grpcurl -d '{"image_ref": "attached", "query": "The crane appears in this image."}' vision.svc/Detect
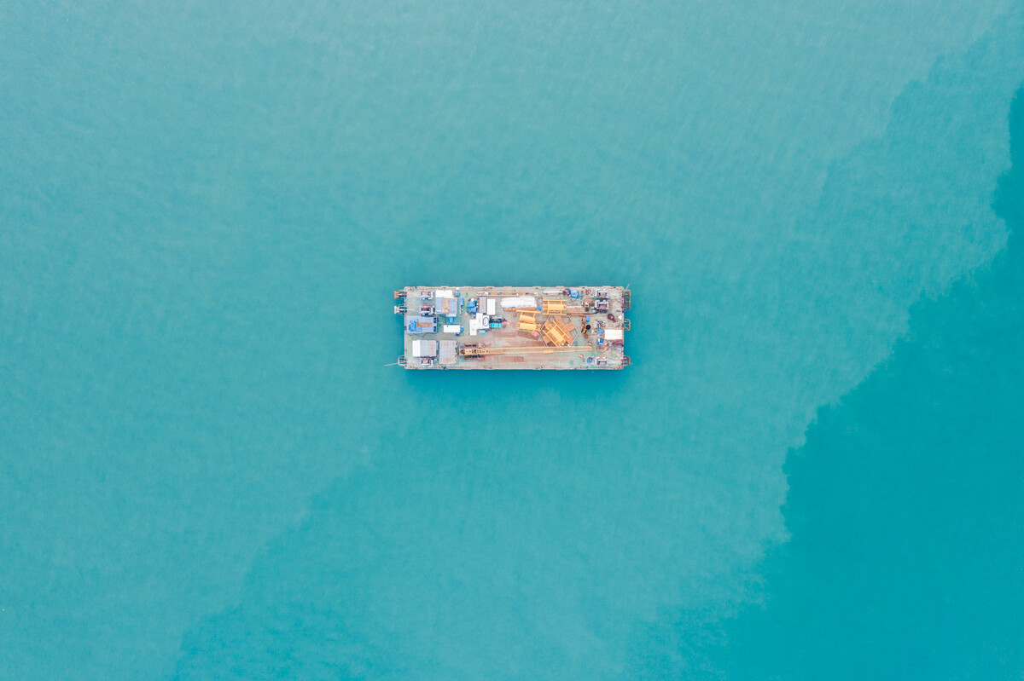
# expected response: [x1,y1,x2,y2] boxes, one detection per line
[459,342,592,360]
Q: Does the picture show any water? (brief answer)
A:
Yes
